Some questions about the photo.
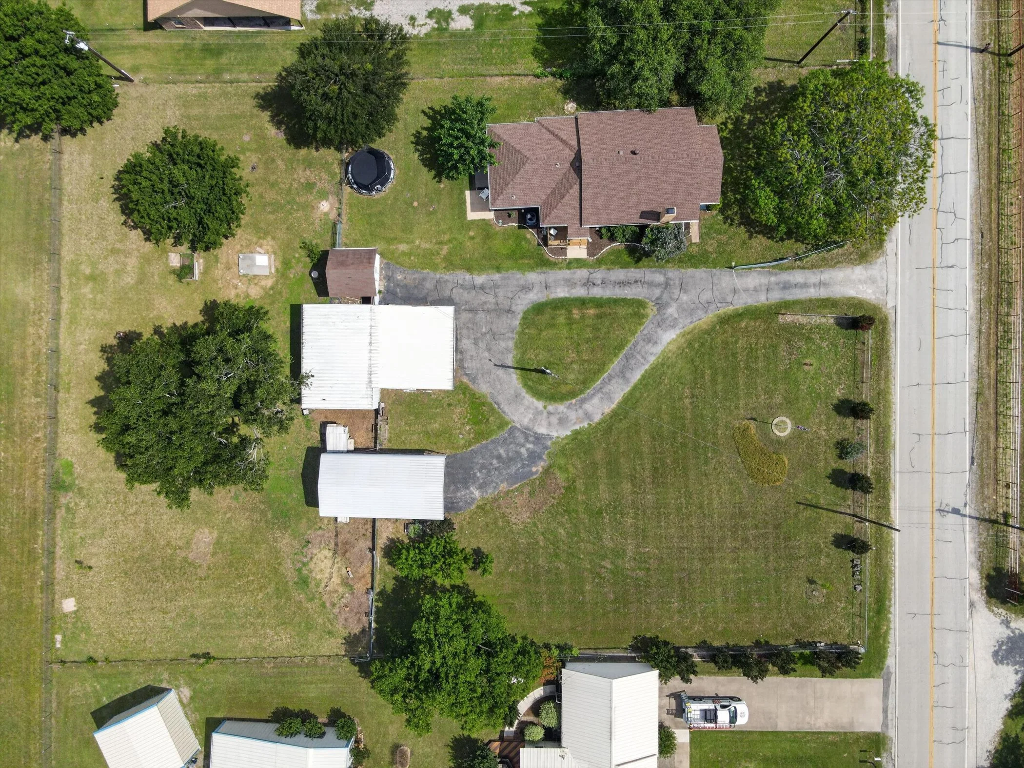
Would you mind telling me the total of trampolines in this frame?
1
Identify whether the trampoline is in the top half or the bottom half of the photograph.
top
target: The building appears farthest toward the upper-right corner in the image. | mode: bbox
[485,106,723,248]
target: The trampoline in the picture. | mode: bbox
[344,141,394,196]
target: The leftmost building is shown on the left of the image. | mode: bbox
[93,678,212,768]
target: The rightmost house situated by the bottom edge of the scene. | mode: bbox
[488,662,659,768]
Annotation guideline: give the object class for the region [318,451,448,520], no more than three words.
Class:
building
